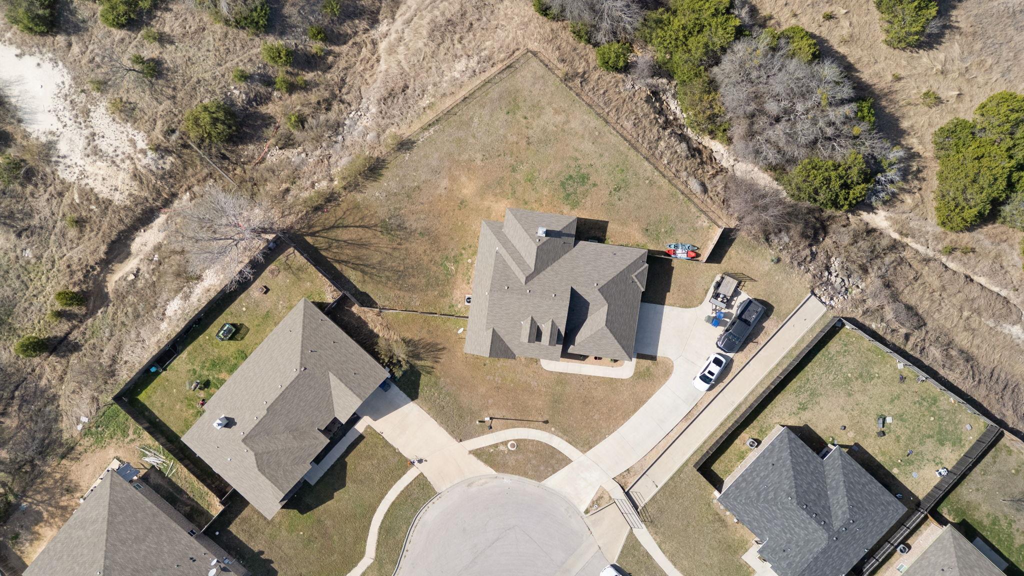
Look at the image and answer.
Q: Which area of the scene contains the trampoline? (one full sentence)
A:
The trampoline sits in the left section of the image.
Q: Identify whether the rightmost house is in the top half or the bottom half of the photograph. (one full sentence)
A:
The bottom half of the photo is where the rightmost house is.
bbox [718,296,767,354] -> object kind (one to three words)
truck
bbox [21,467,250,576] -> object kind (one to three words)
house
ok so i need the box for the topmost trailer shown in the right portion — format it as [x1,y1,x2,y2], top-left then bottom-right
[710,271,744,315]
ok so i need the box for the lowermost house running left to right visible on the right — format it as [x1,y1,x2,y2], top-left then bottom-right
[881,521,1006,576]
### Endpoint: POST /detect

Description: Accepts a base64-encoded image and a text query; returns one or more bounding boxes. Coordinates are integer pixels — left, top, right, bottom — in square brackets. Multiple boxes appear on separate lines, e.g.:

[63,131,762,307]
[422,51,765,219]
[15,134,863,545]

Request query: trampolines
[213,322,238,342]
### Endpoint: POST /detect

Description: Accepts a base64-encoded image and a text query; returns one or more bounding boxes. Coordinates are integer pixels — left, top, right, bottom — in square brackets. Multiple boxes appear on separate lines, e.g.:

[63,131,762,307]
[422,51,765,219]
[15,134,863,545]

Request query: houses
[718,426,908,576]
[881,521,1006,576]
[464,207,649,362]
[181,298,389,520]
[21,467,250,576]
